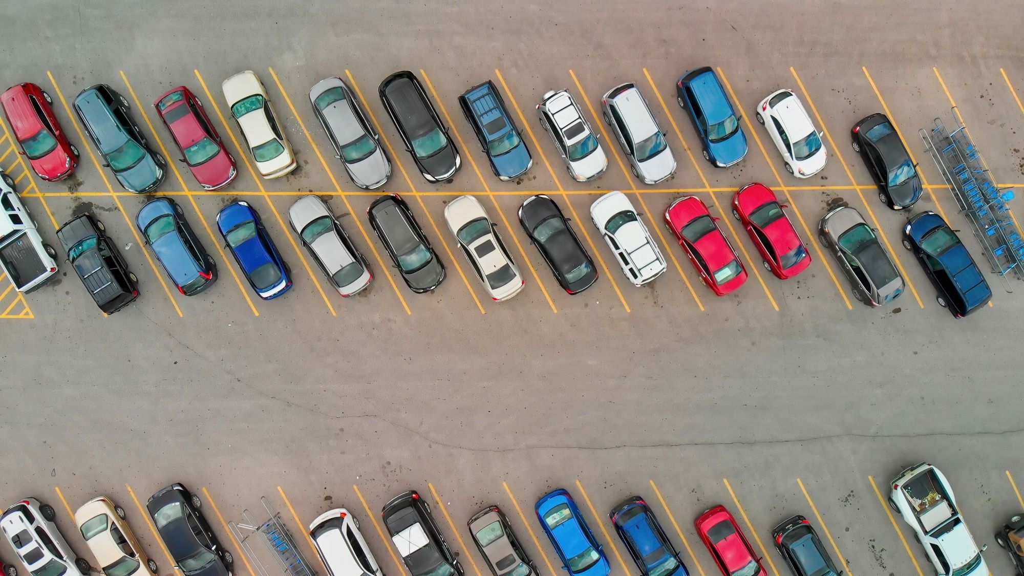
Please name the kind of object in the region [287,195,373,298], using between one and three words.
car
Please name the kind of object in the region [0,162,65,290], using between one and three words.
truck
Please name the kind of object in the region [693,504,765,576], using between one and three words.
car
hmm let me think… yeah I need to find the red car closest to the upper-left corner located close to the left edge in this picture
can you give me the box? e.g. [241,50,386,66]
[1,82,83,181]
